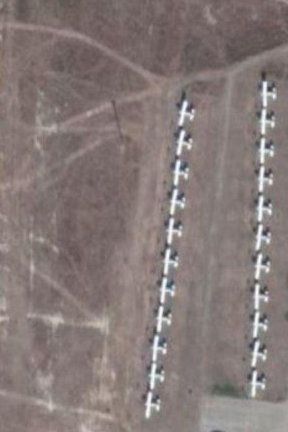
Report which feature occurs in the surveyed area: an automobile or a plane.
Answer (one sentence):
The one in the frame is a plane.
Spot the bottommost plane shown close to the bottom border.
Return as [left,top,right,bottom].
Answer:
[144,393,160,419]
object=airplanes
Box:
[258,138,273,164]
[251,341,267,366]
[165,219,182,245]
[159,277,175,303]
[254,254,269,279]
[254,225,270,250]
[259,109,275,134]
[250,372,265,398]
[176,130,192,155]
[172,160,188,185]
[162,249,178,275]
[144,393,160,419]
[169,189,185,215]
[155,306,171,332]
[251,312,267,337]
[179,101,194,126]
[260,81,276,107]
[257,166,272,192]
[256,195,272,221]
[148,364,164,389]
[252,284,268,309]
[151,336,166,362]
